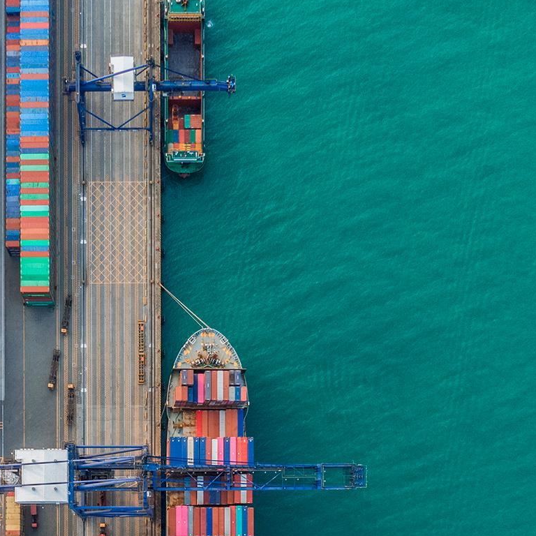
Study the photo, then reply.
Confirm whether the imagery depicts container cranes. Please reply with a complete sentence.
Yes, the picture does show a container crane.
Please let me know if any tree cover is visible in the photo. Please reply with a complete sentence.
No, the scene doesn't show any tree cover.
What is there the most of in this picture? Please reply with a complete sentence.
The scene is dominated by water.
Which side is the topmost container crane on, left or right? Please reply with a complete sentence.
The topmost container crane is on the left side of the image.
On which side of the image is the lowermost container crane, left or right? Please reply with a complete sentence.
It is on the left.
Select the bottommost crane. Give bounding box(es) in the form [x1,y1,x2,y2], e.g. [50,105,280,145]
[0,435,368,532]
